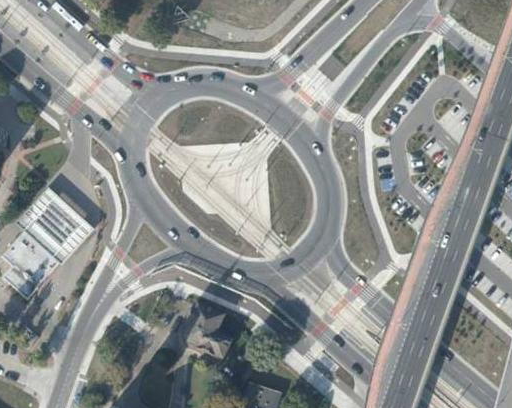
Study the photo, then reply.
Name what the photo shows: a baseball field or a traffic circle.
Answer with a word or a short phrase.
traffic circle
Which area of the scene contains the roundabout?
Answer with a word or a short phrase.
center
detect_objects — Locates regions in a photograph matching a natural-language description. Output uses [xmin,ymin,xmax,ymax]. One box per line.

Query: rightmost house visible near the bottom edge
[243,381,281,408]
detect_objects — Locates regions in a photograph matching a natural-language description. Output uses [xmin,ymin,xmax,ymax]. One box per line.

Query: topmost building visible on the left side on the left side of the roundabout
[17,188,93,263]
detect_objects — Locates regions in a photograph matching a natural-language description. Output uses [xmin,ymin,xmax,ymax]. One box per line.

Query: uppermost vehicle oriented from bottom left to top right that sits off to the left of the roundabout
[53,297,66,312]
